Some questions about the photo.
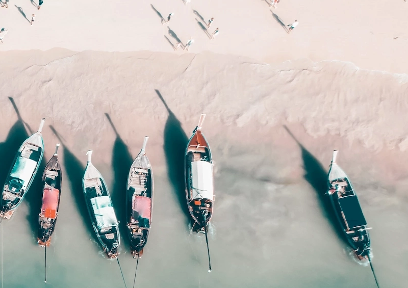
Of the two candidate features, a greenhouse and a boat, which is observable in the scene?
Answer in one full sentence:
The one in the frame is a boat.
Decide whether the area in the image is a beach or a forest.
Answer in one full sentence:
This looks like a beach.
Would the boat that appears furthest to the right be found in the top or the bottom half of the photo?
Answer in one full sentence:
The boat that appears furthest to the right is in the bottom half of the image.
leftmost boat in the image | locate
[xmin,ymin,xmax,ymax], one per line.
[0,117,45,226]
